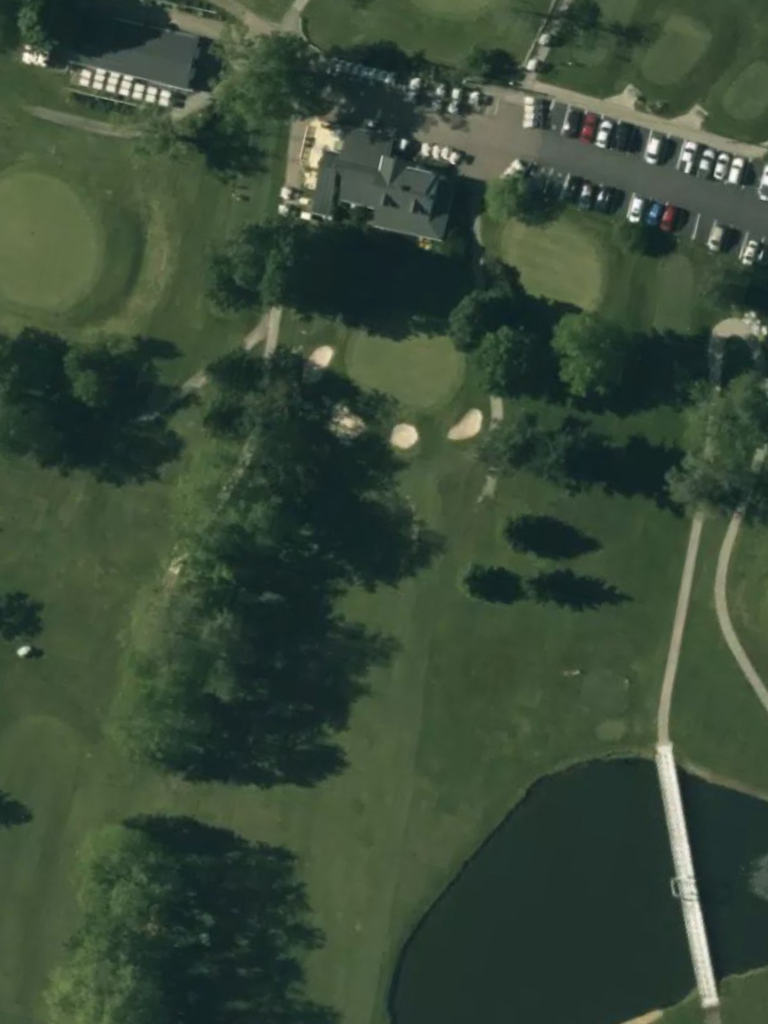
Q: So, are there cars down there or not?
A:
Yes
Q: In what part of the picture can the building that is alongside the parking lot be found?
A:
top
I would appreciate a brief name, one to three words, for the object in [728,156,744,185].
car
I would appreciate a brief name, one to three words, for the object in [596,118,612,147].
car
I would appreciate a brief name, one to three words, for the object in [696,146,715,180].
vehicle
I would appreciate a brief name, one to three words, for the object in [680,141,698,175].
vehicle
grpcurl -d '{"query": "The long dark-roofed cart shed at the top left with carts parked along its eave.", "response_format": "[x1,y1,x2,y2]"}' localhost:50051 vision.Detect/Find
[70,9,199,92]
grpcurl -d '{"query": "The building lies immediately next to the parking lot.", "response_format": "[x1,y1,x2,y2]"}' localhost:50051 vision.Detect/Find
[312,128,455,242]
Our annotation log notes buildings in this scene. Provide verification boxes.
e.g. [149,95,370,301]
[312,128,455,242]
[70,9,199,92]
